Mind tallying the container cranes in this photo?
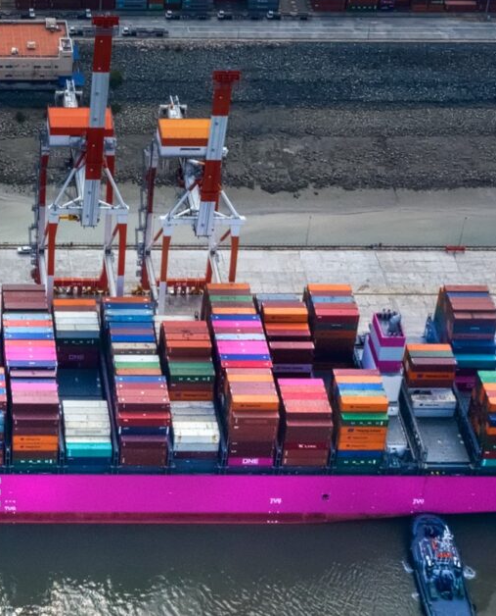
2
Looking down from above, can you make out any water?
Yes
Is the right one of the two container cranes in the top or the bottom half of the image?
top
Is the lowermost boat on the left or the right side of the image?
right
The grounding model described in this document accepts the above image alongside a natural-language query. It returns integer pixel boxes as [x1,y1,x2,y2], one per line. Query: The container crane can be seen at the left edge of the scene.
[24,13,127,329]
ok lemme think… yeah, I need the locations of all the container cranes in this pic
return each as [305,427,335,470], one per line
[24,13,127,329]
[130,69,245,316]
